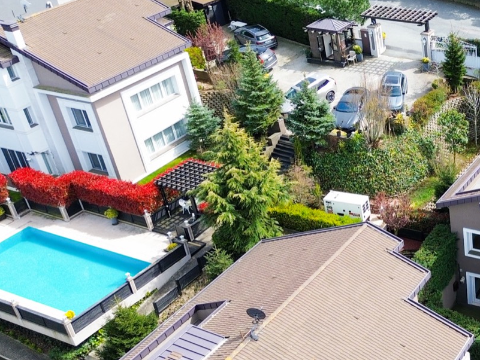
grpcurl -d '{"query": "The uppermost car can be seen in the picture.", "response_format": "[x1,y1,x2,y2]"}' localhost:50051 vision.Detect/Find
[232,26,277,52]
